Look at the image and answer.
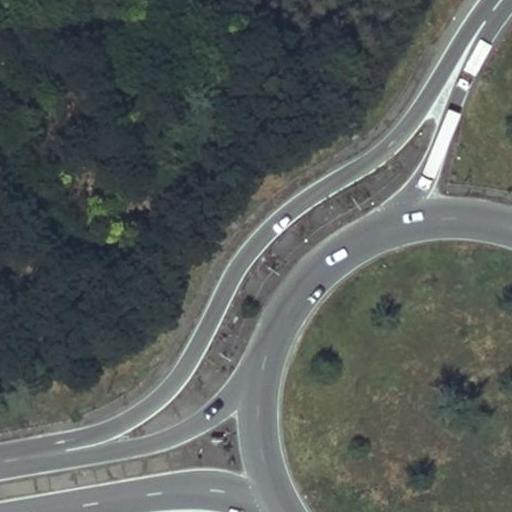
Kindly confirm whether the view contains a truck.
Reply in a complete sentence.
Yes, the frame does contain a truck.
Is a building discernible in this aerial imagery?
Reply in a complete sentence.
No, there's no building here.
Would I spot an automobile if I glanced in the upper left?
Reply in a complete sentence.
No, there is no automobile in the upper left.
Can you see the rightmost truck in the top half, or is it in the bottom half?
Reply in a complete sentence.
You can find the rightmost truck in the top half.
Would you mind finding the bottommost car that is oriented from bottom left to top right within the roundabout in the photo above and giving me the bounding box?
[307,284,325,305]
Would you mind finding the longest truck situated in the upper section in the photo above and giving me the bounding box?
[416,104,462,192]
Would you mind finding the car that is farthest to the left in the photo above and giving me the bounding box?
[202,399,224,418]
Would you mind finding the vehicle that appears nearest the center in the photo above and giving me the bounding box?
[274,216,292,234]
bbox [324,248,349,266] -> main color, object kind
white car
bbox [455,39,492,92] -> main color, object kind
white truck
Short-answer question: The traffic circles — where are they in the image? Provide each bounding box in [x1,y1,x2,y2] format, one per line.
[225,196,512,512]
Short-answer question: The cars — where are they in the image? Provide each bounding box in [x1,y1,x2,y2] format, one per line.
[274,216,292,234]
[307,284,325,305]
[402,212,424,223]
[324,248,349,266]
[202,399,224,418]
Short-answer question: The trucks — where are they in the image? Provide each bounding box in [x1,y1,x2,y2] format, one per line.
[416,104,462,192]
[455,39,492,92]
